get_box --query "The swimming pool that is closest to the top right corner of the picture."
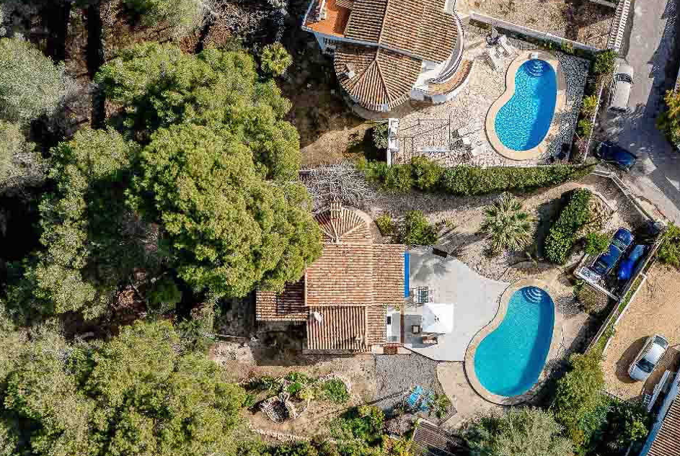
[486,50,566,160]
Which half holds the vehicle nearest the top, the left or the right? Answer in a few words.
right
